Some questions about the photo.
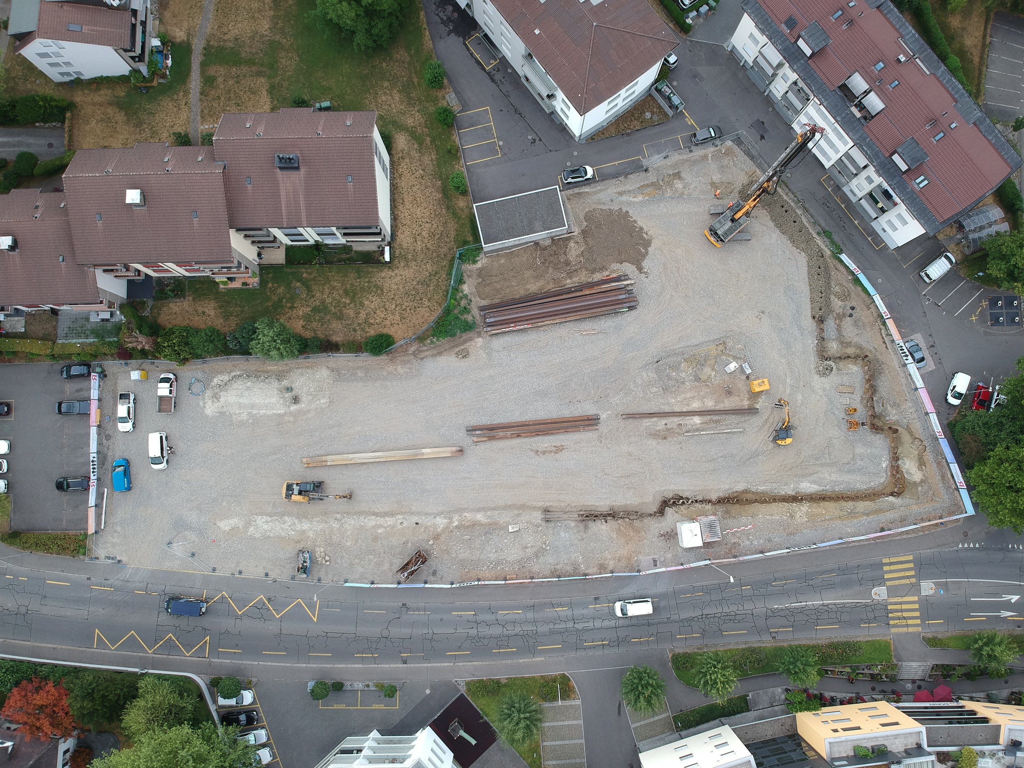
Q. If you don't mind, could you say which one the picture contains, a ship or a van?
van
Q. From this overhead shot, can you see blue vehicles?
Yes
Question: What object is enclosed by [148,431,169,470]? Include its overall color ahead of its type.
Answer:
white vehicle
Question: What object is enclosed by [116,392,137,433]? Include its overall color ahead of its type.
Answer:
white truck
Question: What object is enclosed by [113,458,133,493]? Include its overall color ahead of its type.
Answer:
blue vehicle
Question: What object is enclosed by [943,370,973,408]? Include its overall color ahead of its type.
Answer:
white van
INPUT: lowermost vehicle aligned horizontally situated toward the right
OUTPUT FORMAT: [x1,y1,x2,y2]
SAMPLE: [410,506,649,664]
[613,598,653,618]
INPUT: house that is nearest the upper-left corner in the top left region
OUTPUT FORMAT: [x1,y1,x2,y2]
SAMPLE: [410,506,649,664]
[8,0,157,82]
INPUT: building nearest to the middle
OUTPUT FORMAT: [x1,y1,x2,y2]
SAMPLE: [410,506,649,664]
[467,184,569,255]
